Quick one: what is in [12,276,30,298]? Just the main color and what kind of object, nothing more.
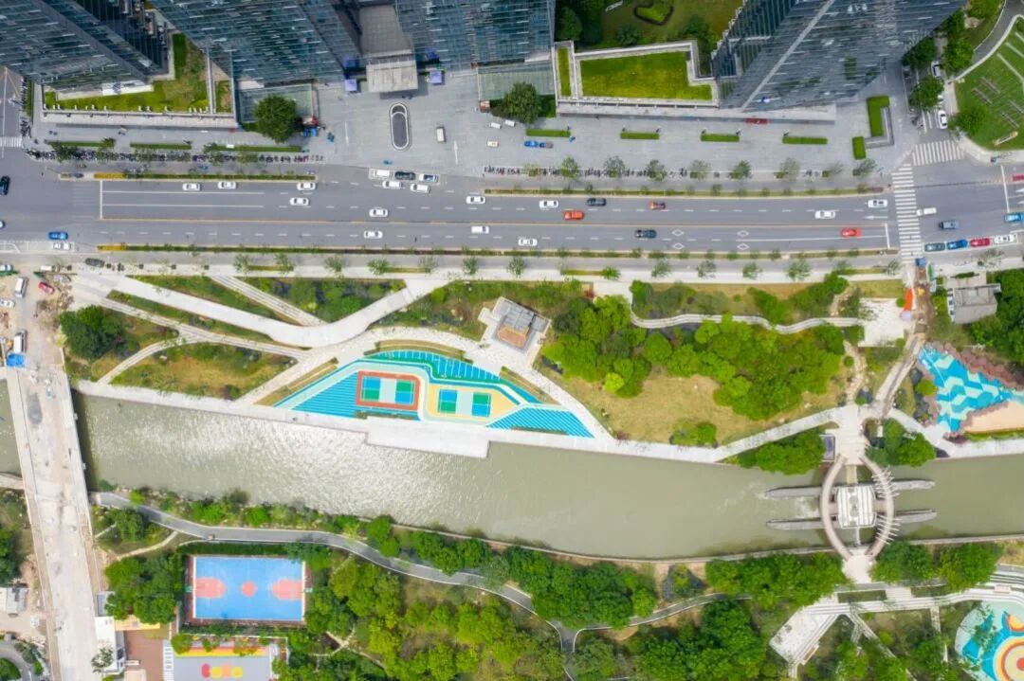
white vehicle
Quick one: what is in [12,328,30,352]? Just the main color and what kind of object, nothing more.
white vehicle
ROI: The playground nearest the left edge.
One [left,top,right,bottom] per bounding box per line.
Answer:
[174,643,270,681]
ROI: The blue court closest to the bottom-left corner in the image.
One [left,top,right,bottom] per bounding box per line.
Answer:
[185,554,306,625]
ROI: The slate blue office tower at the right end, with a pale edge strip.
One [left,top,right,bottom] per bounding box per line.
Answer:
[710,0,976,109]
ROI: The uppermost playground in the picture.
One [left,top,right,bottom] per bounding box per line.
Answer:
[919,347,1024,433]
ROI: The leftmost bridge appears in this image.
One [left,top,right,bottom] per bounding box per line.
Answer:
[2,359,114,681]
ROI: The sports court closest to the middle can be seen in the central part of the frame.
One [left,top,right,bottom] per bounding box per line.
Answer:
[438,389,491,417]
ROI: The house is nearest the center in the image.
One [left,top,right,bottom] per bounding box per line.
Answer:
[491,299,550,354]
